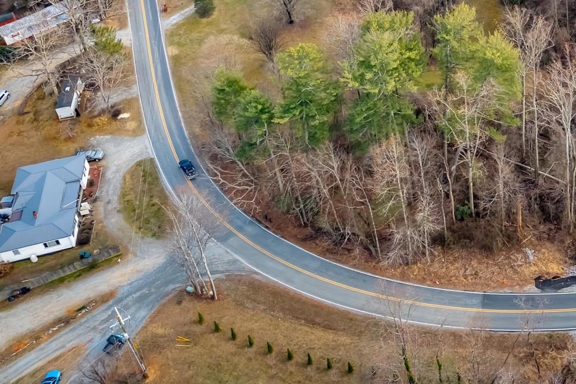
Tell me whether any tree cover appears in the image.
Yes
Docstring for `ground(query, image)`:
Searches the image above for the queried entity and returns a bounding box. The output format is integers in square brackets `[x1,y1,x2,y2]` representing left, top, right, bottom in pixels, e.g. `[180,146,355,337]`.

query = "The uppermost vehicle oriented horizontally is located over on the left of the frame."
[71,145,111,160]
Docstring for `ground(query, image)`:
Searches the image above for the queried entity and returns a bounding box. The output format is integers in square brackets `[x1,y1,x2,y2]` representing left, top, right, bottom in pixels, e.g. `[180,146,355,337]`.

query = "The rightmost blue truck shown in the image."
[176,155,199,181]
